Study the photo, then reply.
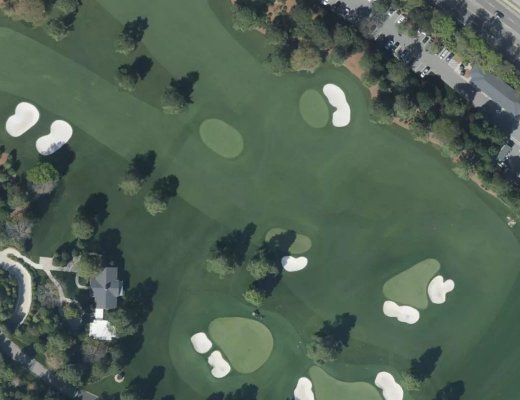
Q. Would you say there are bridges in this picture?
No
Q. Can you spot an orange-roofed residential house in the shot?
No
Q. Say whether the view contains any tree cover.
Yes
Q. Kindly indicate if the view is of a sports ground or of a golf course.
golf course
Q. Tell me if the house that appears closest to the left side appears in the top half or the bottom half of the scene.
bottom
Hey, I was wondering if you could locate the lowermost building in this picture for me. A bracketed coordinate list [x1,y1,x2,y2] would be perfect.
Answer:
[88,268,120,310]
